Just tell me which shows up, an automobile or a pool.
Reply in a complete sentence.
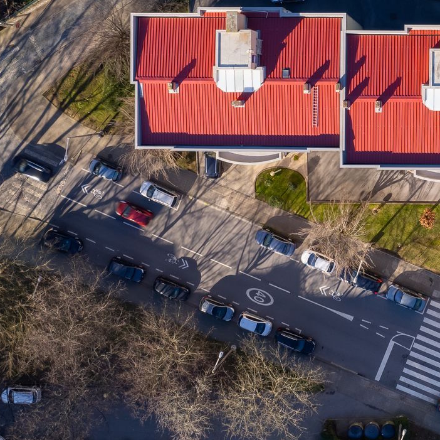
This aerial view contains an automobile.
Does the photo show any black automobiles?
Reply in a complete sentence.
Yes, the image includes a black automobile.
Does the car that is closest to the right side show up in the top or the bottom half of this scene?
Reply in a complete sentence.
The car that is closest to the right side sits in the bottom half of the picture.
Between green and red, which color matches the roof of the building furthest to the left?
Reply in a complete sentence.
The color of the roof of the building furthest to the left is red.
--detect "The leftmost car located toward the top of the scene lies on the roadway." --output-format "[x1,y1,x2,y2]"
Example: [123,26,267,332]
[14,153,56,184]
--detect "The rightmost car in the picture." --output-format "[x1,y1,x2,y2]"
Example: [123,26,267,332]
[382,281,428,313]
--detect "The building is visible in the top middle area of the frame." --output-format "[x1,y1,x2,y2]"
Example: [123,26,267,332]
[131,7,362,167]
